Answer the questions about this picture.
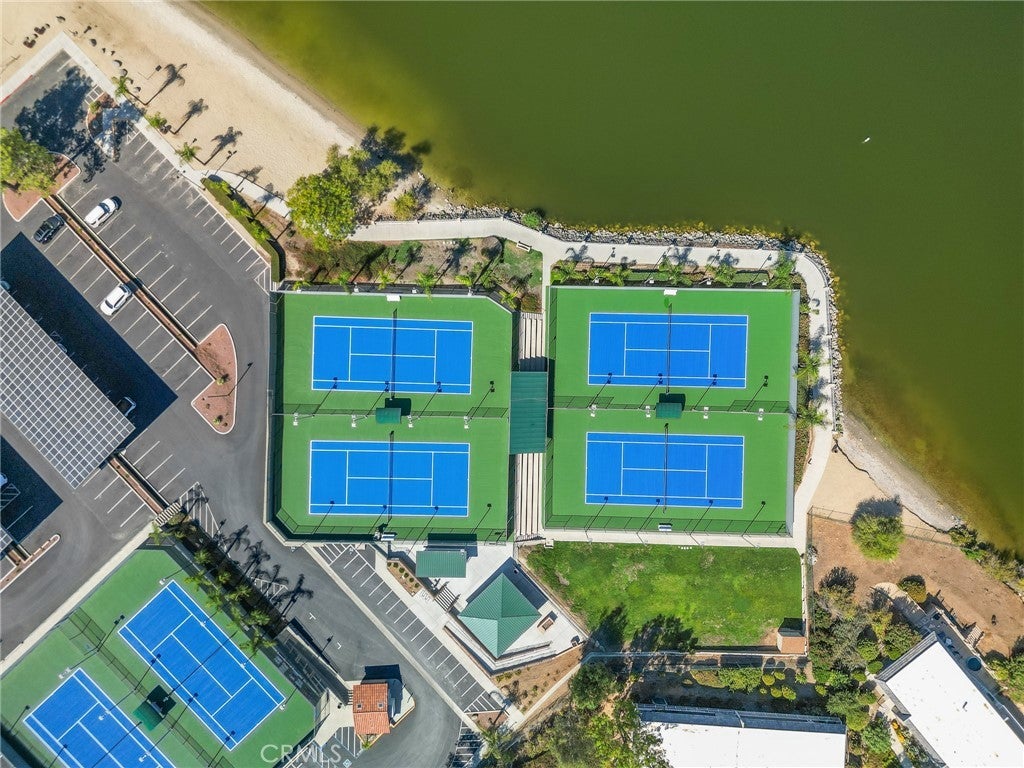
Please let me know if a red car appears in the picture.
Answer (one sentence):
No, no red car is visible in the scene.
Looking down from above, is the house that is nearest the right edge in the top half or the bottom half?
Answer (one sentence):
You can find the house that is nearest the right edge in the bottom half.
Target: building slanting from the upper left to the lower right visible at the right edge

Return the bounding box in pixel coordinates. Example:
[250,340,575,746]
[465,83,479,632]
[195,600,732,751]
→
[873,631,1024,768]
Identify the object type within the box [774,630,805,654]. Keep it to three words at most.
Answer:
shed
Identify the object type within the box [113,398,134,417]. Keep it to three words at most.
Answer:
vehicle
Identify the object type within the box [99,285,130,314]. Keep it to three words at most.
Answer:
car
